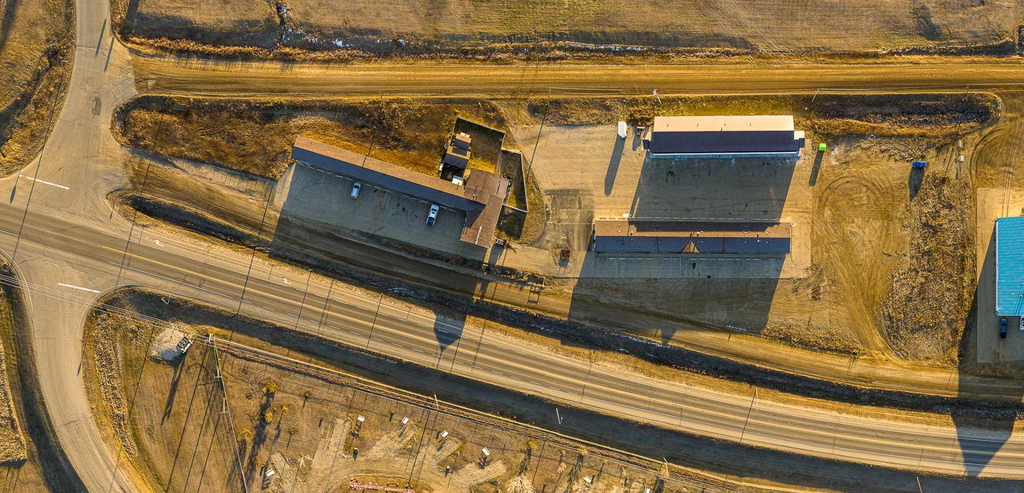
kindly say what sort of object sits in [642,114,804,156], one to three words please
building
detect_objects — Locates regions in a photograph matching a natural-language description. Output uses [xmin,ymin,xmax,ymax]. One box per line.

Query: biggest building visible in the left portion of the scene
[292,136,509,249]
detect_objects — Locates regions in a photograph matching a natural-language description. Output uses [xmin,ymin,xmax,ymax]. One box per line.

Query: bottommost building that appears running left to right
[595,221,791,253]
